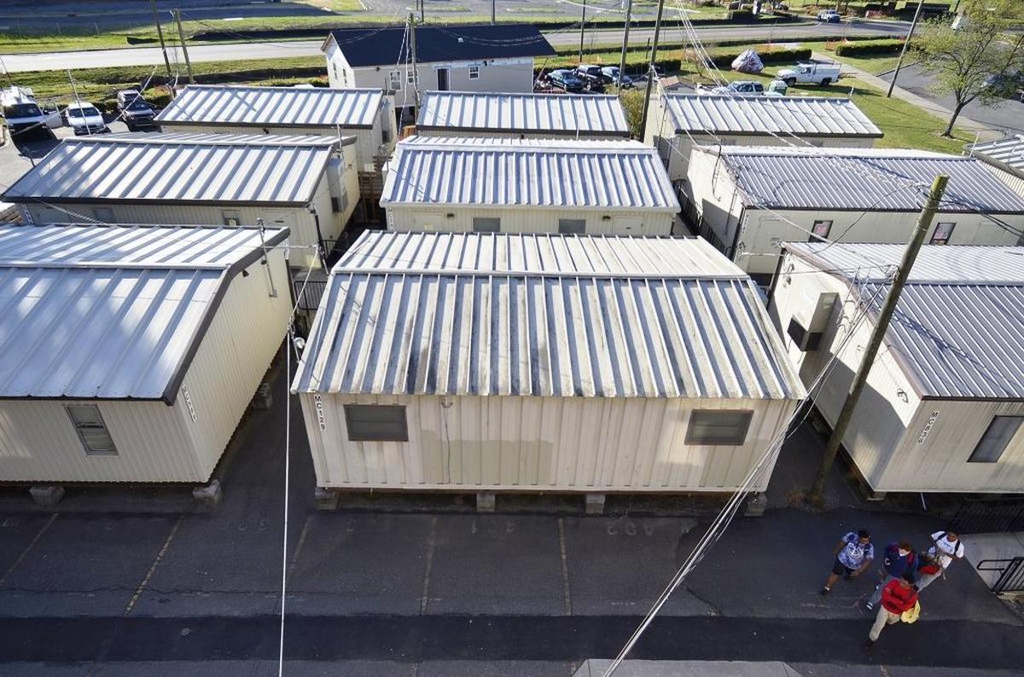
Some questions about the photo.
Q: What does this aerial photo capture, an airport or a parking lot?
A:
parking lot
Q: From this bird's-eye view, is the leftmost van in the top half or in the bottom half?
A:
top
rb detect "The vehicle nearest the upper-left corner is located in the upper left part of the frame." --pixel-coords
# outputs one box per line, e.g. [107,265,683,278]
[0,78,73,136]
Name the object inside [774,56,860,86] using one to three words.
truck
